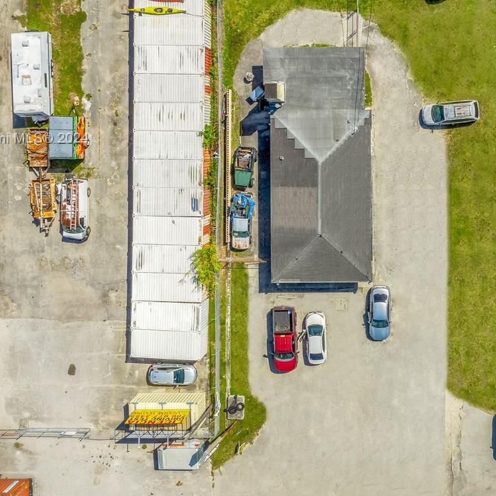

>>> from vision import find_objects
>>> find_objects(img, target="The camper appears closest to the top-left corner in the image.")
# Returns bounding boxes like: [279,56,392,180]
[11,33,60,129]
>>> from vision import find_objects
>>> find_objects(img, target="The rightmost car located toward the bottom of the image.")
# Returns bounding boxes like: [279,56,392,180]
[366,286,392,342]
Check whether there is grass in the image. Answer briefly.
Yes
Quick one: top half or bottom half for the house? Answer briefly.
top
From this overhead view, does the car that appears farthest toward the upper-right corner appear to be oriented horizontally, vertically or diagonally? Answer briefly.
horizontally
